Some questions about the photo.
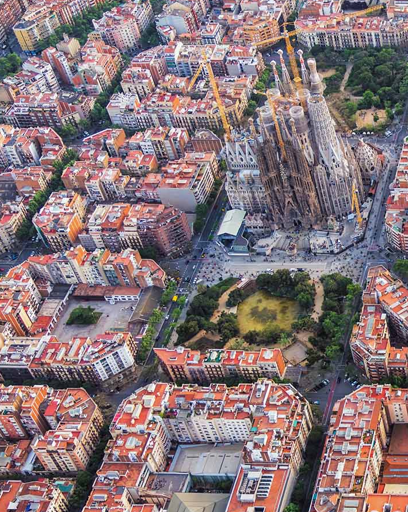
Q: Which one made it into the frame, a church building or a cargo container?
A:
church building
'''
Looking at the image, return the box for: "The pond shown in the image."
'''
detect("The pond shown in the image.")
[234,293,303,332]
